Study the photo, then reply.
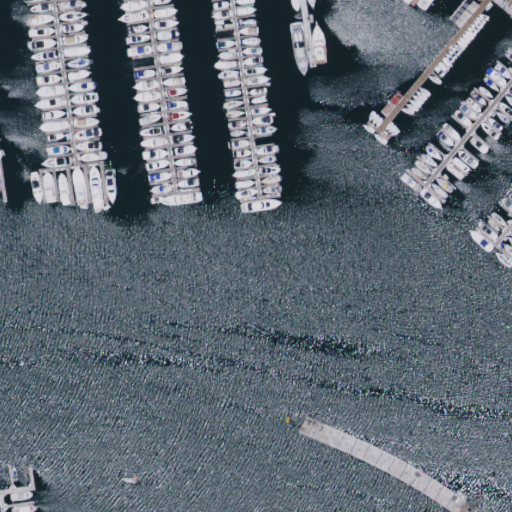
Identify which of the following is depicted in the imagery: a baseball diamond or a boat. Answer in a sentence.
This aerial view contains a boat.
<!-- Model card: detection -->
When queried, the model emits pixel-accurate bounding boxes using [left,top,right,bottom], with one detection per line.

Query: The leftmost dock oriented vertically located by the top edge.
[30,0,108,204]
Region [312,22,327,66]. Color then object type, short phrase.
white boat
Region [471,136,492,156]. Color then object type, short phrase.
white boat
